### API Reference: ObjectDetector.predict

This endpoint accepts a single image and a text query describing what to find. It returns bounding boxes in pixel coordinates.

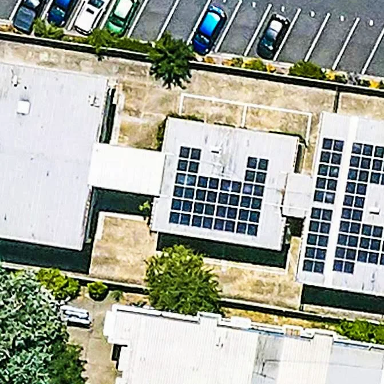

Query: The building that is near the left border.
[0,61,124,251]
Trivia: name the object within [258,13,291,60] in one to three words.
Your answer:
car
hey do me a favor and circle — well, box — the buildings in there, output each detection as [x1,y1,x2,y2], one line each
[104,305,384,384]
[150,116,304,252]
[296,111,384,297]
[0,61,124,251]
